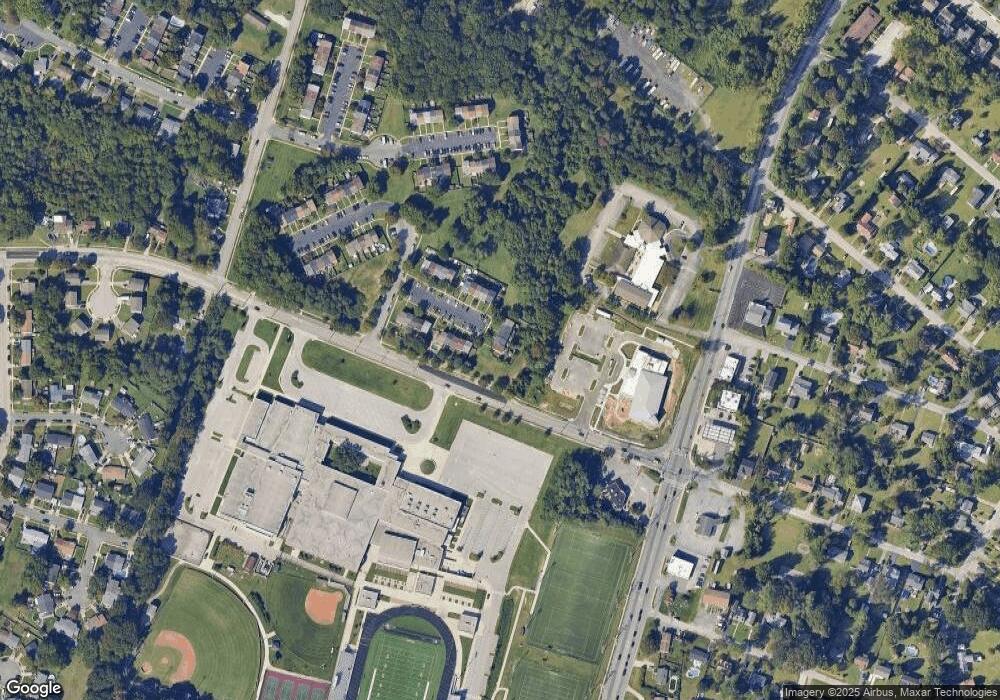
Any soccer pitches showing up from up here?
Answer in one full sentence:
Yes, this view includes a soccer pitch.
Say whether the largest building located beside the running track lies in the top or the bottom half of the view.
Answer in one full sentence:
You can find the largest building located beside the running track in the bottom half.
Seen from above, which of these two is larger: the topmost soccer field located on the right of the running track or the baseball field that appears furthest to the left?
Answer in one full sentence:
Of the two, the soccer field is larger and the baseball field is the smaller one.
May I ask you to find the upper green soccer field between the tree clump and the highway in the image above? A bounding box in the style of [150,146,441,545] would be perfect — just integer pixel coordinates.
[523,522,643,664]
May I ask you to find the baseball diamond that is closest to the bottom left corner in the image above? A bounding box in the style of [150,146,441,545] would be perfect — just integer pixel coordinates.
[141,630,195,683]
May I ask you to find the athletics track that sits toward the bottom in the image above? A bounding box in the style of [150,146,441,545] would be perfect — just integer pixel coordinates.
[348,604,456,700]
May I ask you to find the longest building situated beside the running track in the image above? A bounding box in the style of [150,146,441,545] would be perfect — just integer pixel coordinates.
[221,398,468,571]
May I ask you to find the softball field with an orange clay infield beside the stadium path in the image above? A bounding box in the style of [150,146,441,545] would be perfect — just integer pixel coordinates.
[303,586,345,627]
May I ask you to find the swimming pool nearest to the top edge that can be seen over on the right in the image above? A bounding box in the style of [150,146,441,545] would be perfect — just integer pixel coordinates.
[923,241,938,256]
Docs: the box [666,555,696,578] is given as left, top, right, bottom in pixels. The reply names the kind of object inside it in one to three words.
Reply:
building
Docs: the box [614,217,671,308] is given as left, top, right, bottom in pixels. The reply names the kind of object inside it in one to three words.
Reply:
building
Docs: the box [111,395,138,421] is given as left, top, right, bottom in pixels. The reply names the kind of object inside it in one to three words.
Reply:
house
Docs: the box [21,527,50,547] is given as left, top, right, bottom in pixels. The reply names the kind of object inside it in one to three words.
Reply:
house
